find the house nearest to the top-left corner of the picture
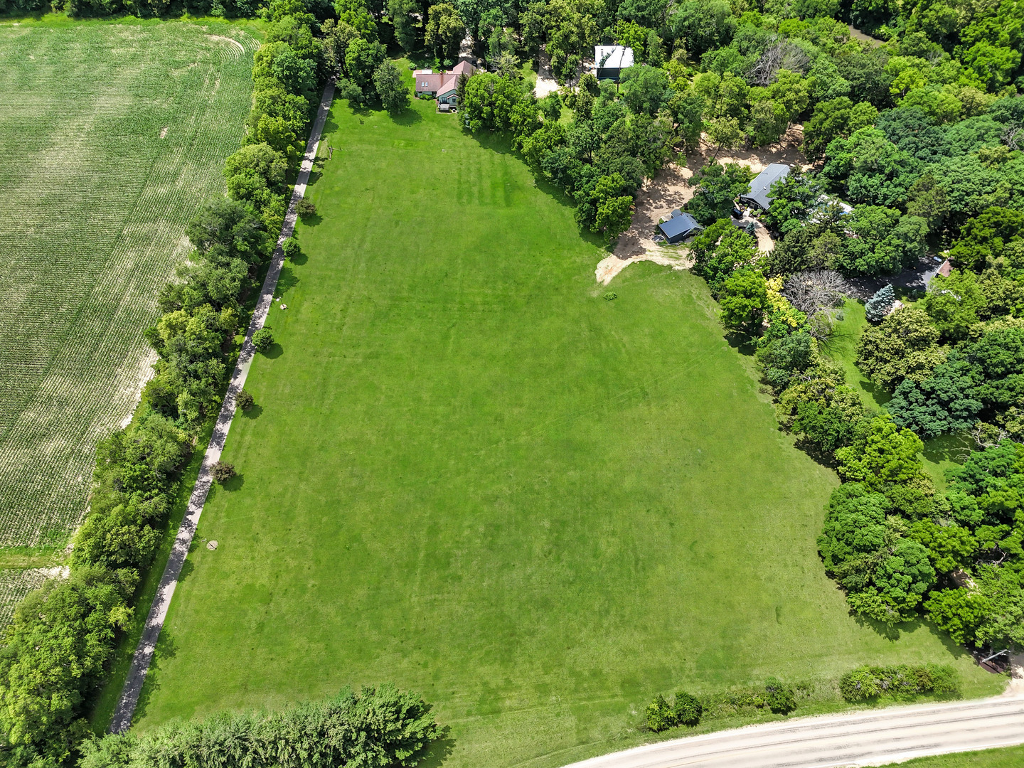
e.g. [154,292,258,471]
[416,60,477,110]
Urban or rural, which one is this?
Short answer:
rural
